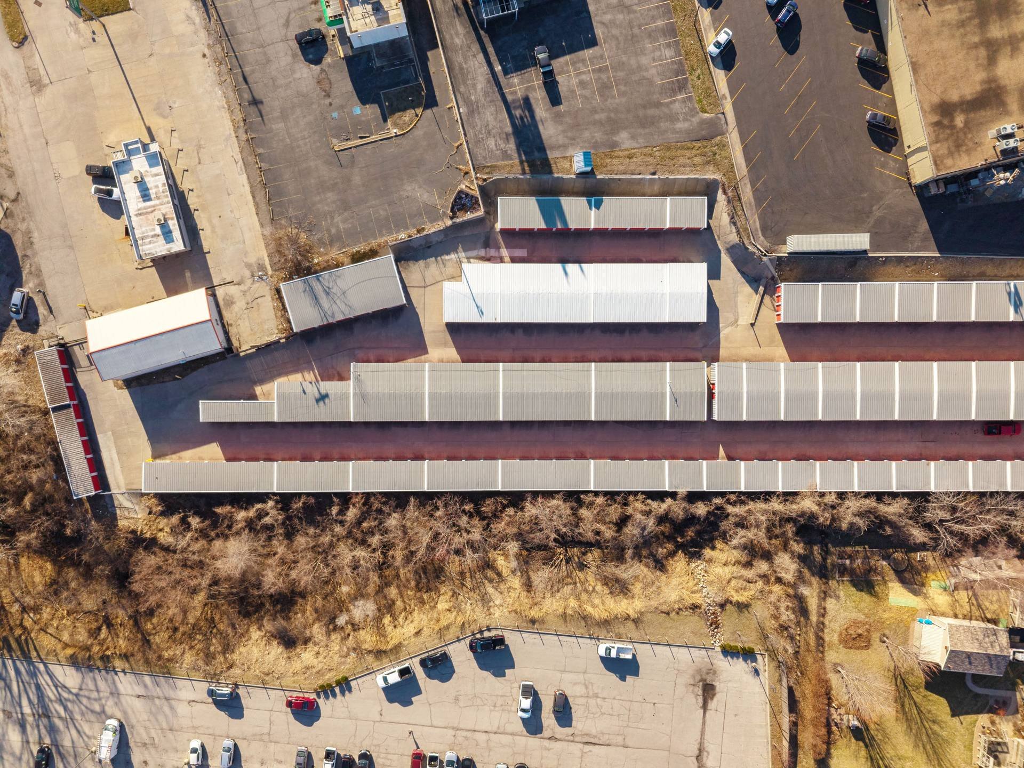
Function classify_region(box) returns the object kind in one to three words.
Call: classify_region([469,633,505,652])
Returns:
vehicle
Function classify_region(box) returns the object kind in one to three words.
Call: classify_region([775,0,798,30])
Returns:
car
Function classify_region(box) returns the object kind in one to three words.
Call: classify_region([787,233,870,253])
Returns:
shed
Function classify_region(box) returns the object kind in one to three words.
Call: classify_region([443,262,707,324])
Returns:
building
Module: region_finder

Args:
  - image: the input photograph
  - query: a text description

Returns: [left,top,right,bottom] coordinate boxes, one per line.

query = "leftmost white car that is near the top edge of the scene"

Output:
[708,27,732,59]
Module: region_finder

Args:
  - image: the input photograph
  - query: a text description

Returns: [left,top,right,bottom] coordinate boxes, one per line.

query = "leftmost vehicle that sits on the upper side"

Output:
[11,289,30,320]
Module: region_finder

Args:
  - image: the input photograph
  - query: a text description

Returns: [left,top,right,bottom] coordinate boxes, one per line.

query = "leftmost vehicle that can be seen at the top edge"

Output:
[294,27,327,47]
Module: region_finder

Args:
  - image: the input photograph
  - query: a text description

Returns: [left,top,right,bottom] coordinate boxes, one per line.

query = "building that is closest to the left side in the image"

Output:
[33,345,105,499]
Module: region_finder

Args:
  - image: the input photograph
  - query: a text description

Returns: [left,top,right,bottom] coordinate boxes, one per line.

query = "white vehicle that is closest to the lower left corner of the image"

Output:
[92,717,121,766]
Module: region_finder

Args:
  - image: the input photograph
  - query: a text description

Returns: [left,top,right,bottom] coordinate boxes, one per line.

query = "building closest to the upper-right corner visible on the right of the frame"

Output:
[864,0,1024,187]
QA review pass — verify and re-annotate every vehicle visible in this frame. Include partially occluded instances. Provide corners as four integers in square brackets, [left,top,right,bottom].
[420,649,450,668]
[775,0,798,30]
[410,747,424,768]
[982,422,1022,436]
[462,754,474,768]
[294,27,327,47]
[321,745,336,768]
[11,289,30,320]
[518,679,535,717]
[598,643,632,659]
[207,684,238,700]
[93,185,123,201]
[864,111,897,130]
[293,744,308,768]
[469,633,505,652]
[552,686,566,715]
[92,717,121,766]
[218,737,235,768]
[36,743,53,768]
[535,45,556,84]
[708,27,732,59]
[516,761,527,768]
[426,749,440,768]
[444,749,458,768]
[357,748,371,768]
[189,738,204,768]
[377,662,414,687]
[87,163,117,179]
[286,694,318,710]
[341,753,354,768]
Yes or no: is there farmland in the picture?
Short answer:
No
